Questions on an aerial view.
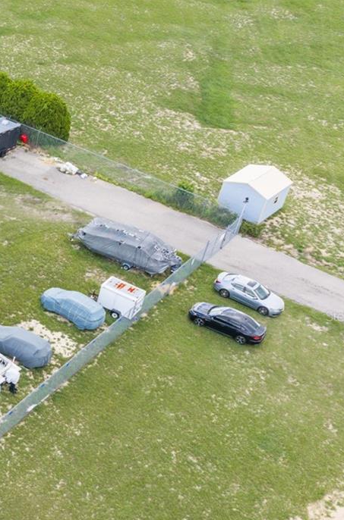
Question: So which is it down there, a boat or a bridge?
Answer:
boat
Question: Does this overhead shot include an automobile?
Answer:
Yes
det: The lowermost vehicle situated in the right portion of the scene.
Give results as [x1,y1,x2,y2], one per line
[189,301,270,345]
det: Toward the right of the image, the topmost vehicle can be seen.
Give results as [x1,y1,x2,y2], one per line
[214,271,288,317]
